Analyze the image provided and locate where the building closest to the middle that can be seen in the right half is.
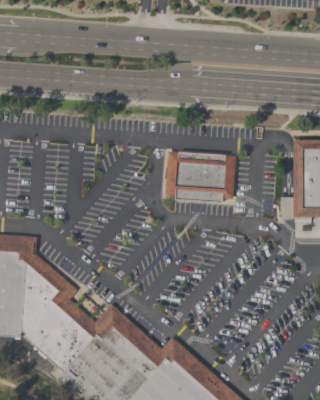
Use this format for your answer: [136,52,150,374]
[166,152,236,202]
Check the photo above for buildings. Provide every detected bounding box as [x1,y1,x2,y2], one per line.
[0,234,245,400]
[166,152,236,202]
[281,139,320,220]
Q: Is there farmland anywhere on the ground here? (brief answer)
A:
No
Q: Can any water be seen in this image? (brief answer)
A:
No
